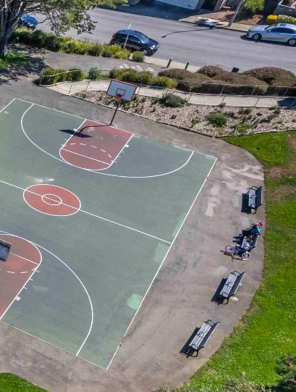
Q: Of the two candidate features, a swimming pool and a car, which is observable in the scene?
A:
car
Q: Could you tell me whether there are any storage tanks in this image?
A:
No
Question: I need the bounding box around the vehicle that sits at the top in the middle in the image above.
[108,22,161,52]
